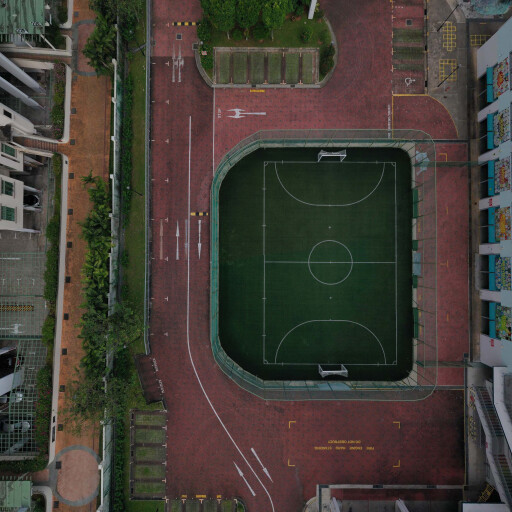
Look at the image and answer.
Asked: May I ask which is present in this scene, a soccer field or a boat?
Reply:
soccer field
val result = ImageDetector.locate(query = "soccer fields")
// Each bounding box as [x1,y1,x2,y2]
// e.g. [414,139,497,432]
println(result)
[212,142,416,388]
